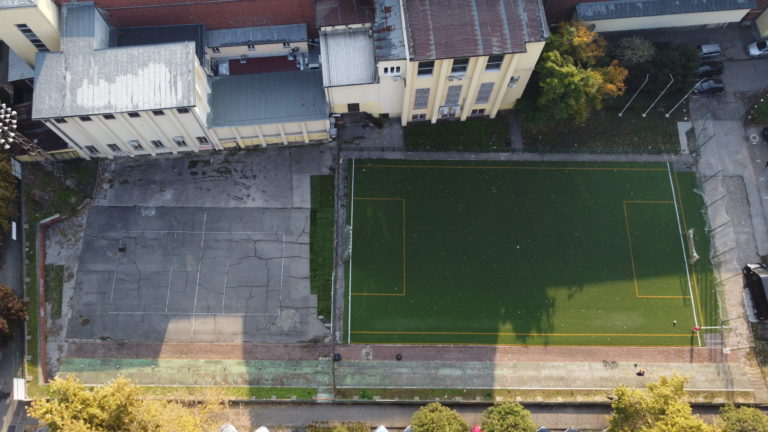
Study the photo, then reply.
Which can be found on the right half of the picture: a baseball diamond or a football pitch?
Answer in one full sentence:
The one visible on the right half of the picture is a football pitch.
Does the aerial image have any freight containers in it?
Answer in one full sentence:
No, I can see no freight container in this picture.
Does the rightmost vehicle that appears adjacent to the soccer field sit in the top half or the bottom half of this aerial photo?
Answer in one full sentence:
You can find the rightmost vehicle that appears adjacent to the soccer field in the bottom half.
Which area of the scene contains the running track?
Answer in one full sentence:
The running track is located in the bottom region of the scene.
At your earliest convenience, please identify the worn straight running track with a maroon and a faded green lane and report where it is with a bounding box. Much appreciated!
[58,341,754,400]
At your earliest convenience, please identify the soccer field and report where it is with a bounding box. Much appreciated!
[342,158,733,347]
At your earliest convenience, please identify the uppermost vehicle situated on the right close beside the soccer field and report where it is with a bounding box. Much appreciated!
[744,262,768,322]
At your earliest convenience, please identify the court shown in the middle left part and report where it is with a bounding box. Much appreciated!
[70,152,330,341]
